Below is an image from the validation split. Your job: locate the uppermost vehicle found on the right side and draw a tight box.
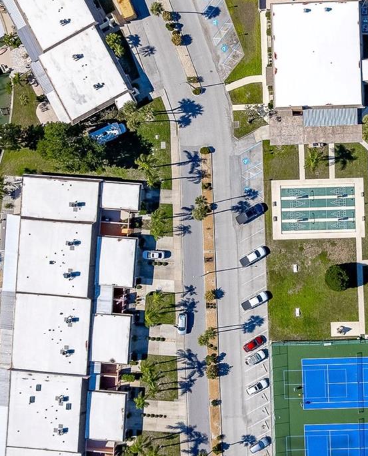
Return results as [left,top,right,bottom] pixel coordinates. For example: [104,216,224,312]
[237,203,266,223]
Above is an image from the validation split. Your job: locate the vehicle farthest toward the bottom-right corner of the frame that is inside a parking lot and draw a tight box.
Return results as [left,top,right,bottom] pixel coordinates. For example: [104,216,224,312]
[248,435,272,454]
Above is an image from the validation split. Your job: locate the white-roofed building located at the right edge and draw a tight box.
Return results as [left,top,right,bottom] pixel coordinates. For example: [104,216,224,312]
[271,1,368,126]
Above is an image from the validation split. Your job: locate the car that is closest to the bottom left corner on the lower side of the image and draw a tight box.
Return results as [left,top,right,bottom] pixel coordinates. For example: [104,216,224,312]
[173,311,188,335]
